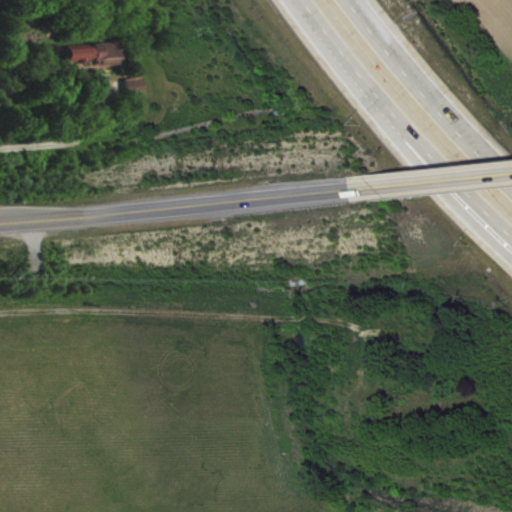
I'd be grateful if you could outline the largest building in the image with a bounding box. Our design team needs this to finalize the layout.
[70,42,123,72]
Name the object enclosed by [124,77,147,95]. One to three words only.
building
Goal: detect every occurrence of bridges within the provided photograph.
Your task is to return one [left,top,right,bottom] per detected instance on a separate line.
[348,161,512,202]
